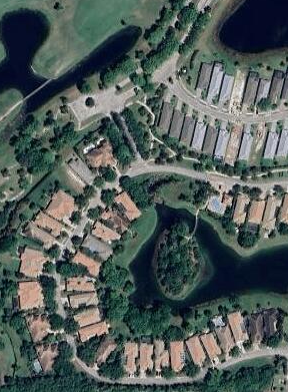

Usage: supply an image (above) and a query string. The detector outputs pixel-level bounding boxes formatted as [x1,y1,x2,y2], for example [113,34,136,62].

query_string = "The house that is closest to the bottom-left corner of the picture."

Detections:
[40,344,59,367]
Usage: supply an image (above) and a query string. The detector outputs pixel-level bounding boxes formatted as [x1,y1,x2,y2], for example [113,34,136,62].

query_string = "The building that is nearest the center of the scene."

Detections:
[114,192,141,221]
